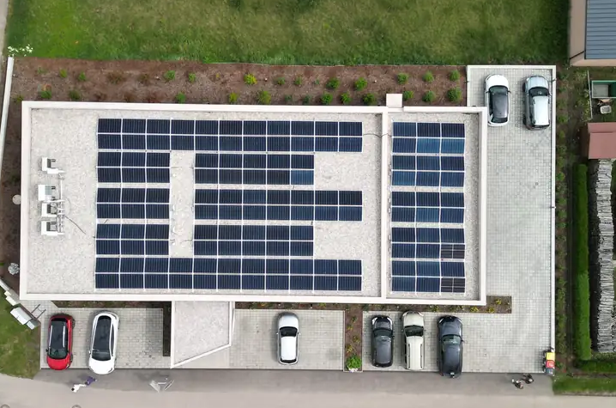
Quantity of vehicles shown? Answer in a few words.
eight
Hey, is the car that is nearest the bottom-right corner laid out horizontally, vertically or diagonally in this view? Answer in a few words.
vertically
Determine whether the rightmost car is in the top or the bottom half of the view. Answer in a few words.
top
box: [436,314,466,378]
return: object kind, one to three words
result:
car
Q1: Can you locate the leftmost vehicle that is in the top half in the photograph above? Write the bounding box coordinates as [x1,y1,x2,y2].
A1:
[484,74,512,127]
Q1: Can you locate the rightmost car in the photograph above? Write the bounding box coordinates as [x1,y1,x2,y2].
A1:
[522,75,552,129]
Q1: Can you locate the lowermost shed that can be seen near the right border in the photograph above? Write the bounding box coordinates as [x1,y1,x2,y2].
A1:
[582,121,616,159]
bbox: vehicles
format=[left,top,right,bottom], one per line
[401,310,427,370]
[275,311,302,365]
[522,75,552,129]
[369,315,396,367]
[45,314,75,368]
[436,314,466,378]
[484,74,512,127]
[87,311,119,374]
